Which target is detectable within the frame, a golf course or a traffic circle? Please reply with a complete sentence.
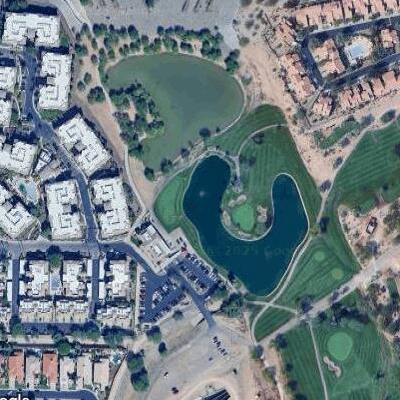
Of the two, only a golf course appears.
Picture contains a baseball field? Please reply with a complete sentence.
No, there isn't any baseball field down there.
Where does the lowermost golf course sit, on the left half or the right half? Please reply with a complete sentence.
It is on the right.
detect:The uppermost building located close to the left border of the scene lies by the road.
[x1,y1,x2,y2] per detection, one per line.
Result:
[0,12,60,48]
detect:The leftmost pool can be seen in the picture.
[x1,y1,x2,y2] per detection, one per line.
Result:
[20,181,35,202]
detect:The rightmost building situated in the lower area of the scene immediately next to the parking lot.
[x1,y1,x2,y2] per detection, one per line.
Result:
[137,230,178,260]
